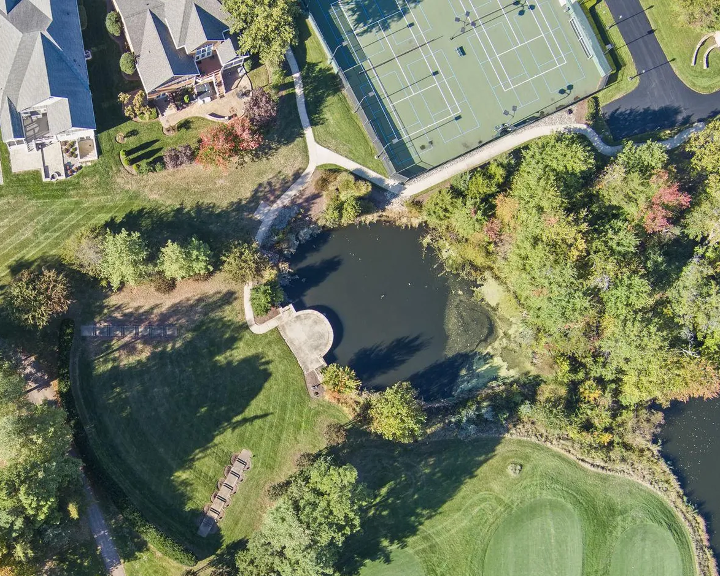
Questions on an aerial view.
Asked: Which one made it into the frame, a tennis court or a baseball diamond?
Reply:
tennis court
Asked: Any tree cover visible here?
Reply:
Yes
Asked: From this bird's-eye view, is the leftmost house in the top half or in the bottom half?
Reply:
top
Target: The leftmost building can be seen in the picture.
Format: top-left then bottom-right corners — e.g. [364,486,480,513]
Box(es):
[0,0,98,181]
